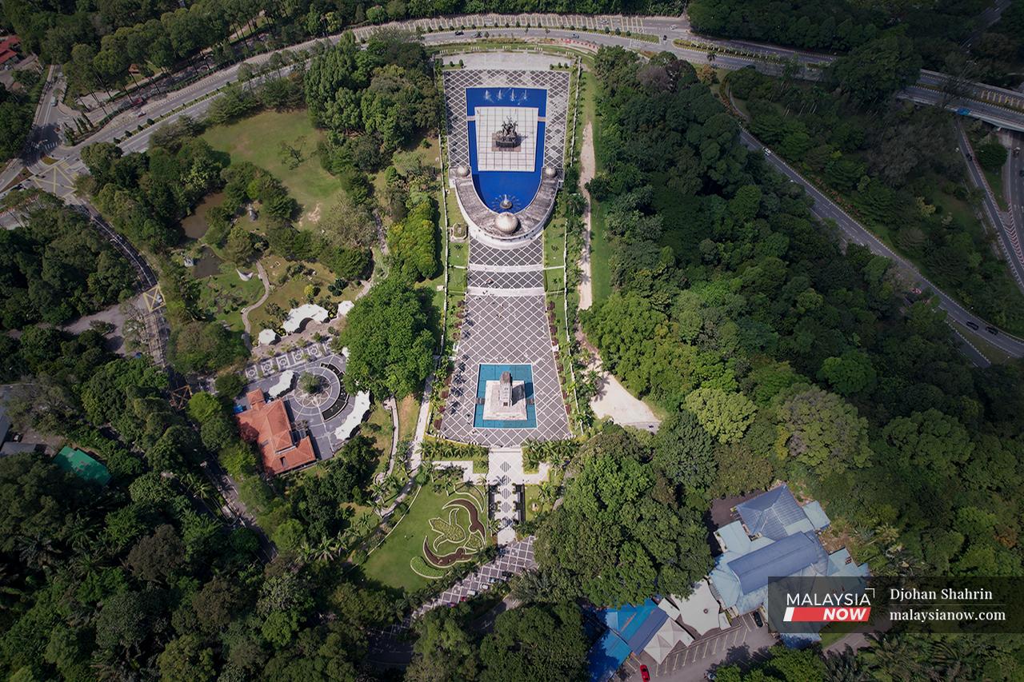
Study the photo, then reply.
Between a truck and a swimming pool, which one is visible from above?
swimming pool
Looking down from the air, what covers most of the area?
trees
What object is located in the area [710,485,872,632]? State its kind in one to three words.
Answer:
building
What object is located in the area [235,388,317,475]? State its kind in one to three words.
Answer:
building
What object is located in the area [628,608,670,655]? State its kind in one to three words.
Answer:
shed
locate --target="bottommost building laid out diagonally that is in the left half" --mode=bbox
[57,446,117,487]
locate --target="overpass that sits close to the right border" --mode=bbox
[897,71,1024,139]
